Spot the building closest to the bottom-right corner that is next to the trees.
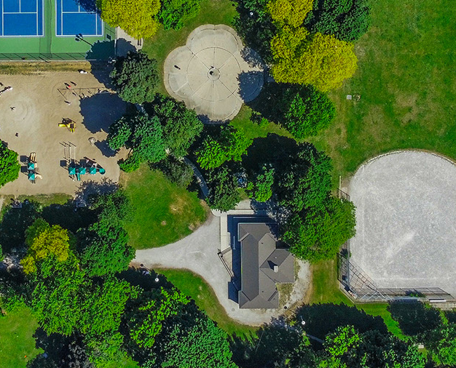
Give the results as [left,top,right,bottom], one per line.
[239,223,295,309]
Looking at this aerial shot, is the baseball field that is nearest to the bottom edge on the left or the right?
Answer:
right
